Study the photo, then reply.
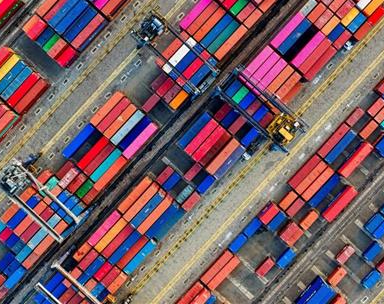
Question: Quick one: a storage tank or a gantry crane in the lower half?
gantry crane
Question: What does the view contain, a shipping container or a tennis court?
shipping container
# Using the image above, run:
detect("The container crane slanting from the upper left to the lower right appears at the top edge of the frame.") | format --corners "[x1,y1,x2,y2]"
[127,6,221,101]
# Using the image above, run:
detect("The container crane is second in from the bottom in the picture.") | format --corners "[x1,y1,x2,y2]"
[0,147,101,242]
